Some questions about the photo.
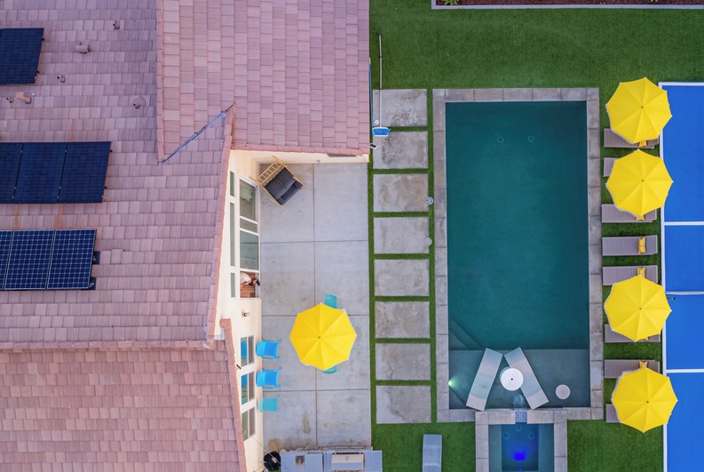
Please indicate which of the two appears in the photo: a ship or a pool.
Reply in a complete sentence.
This aerial view contains a pool.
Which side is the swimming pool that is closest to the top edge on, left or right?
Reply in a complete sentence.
The swimming pool that is closest to the top edge is on the right side of the image.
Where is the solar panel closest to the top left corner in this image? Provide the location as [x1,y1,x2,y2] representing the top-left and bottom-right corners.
[0,28,43,83]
